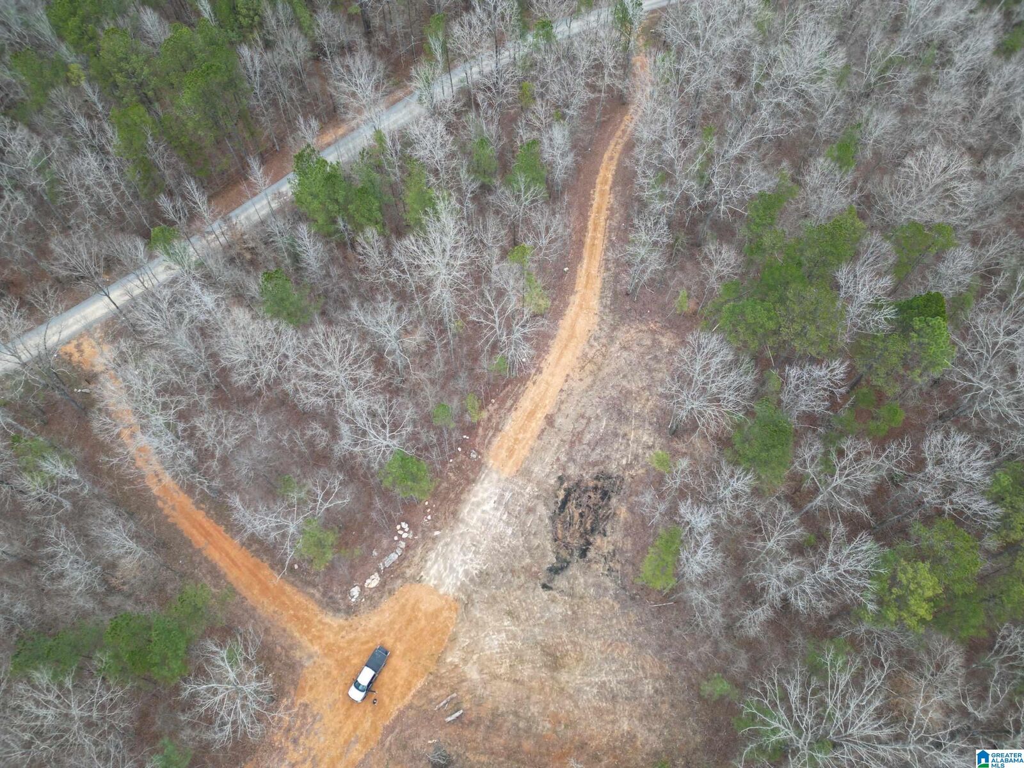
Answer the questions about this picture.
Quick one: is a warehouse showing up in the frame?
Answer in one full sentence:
No, the picture doesn't show any warehouse.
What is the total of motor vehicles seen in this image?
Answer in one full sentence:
The picture shows just 1 motor vehicle.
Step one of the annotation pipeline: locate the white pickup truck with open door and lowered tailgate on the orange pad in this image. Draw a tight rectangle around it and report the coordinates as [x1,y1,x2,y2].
[348,644,391,704]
